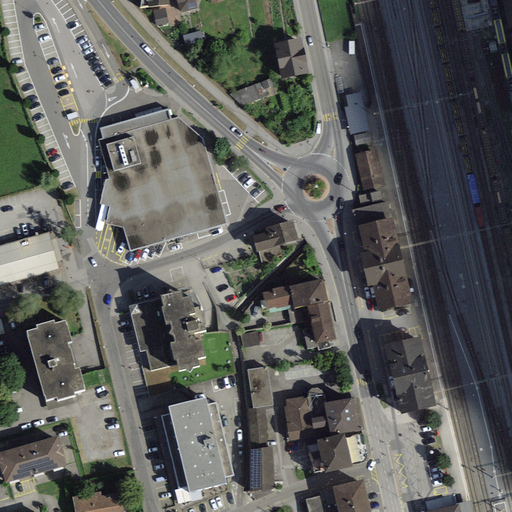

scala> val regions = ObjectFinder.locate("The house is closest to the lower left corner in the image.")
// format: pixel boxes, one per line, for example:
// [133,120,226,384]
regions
[0,437,66,484]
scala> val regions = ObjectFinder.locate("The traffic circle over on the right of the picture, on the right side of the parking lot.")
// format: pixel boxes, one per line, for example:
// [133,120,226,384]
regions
[282,154,350,220]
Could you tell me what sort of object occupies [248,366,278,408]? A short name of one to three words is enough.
barn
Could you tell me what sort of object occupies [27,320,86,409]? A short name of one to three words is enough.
building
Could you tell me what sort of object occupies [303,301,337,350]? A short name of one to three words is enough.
house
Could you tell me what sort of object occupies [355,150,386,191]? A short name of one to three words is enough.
shed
